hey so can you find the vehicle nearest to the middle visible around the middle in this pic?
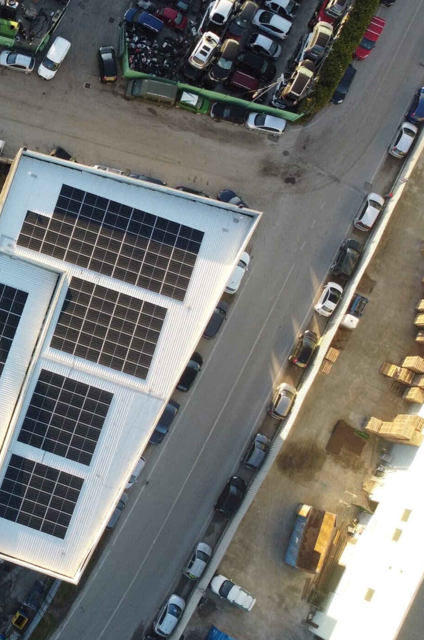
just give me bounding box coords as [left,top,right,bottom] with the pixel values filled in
[200,301,229,340]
